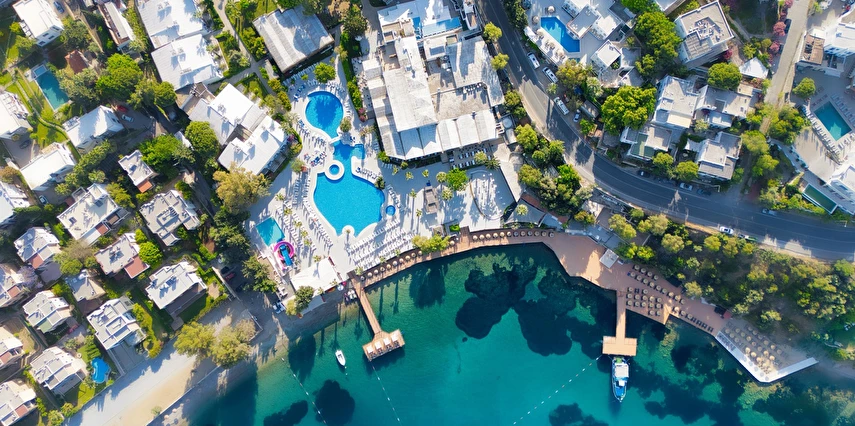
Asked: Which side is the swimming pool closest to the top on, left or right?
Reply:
right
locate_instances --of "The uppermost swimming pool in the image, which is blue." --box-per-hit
[536,12,584,57]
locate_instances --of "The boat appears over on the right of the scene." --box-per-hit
[611,356,628,404]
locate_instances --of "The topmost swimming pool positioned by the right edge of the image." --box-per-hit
[808,94,855,147]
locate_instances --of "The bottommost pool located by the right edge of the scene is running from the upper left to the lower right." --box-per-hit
[797,179,841,216]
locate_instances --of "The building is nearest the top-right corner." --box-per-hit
[795,3,855,70]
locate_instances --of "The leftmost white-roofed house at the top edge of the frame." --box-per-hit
[12,0,70,43]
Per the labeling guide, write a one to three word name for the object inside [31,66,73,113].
swimming pool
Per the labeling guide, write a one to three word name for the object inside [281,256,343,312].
building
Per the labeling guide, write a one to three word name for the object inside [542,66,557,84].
vehicle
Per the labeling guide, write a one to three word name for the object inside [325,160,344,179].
swimming pool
